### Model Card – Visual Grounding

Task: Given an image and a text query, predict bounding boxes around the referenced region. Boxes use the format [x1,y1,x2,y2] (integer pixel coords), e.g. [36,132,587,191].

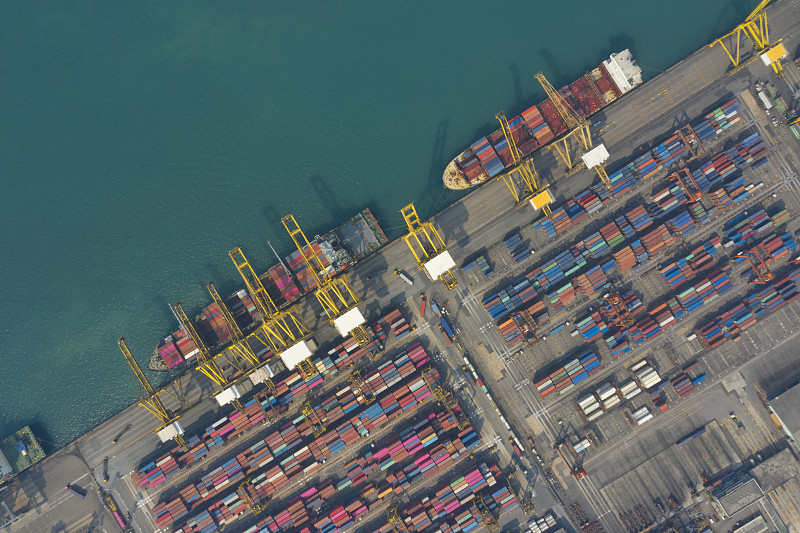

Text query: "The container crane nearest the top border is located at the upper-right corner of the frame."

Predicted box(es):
[710,0,796,89]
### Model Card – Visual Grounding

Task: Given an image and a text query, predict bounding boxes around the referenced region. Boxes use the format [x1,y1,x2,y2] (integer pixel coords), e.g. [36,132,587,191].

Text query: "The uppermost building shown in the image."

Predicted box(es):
[762,379,800,465]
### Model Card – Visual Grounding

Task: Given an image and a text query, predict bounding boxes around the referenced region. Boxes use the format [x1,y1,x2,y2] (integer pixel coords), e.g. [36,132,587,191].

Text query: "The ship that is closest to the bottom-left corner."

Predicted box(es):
[0,425,101,483]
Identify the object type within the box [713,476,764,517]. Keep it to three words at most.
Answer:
building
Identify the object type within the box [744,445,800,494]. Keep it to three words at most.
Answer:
shed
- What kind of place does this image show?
port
